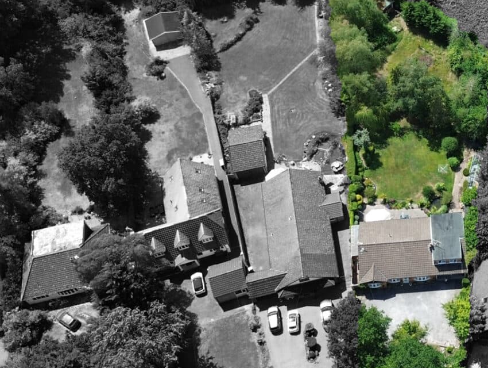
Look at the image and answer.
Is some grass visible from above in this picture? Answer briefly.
Yes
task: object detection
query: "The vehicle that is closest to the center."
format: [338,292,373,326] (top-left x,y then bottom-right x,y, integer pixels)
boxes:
[190,271,208,298]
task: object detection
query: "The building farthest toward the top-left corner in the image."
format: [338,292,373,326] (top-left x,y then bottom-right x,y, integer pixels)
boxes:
[142,11,185,47]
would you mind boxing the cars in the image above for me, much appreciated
[54,308,83,335]
[190,271,208,298]
[285,306,303,339]
[319,299,338,332]
[264,304,284,338]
